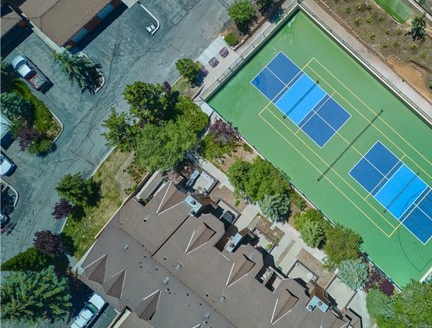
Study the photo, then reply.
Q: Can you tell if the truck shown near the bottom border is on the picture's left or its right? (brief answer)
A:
left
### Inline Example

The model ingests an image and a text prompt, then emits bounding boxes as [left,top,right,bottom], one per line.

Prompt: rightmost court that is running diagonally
[348,140,432,245]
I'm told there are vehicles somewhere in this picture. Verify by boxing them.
[64,290,109,328]
[11,56,46,93]
[0,153,14,177]
[0,213,14,237]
